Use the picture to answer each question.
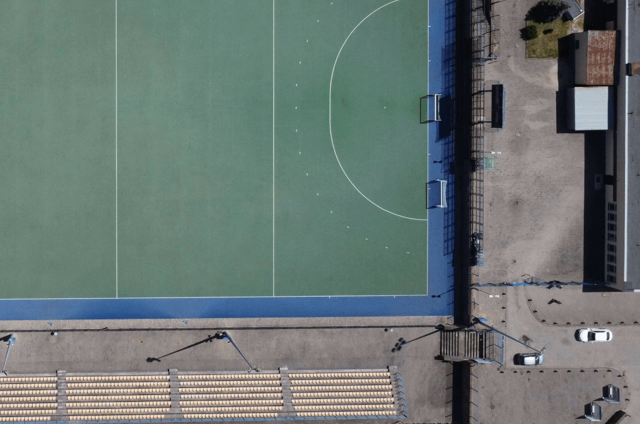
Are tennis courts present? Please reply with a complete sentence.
No, this view has no tennis court in it.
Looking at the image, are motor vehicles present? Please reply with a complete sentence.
Yes, looking at the shot, I can spot a motor vehicle.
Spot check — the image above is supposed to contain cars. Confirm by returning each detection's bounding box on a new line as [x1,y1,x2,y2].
[516,353,545,369]
[581,328,615,345]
